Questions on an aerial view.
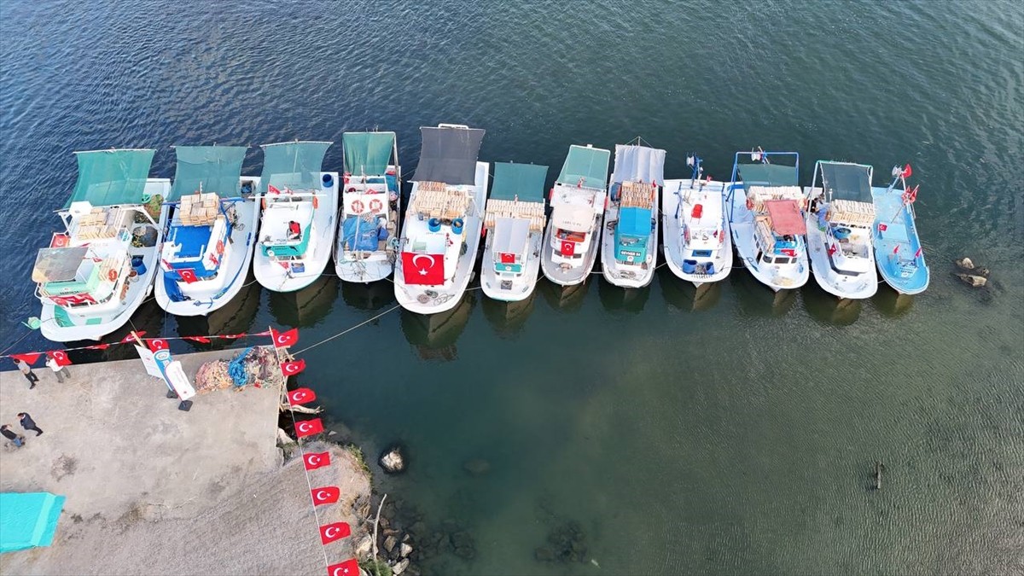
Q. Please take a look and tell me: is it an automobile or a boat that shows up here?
boat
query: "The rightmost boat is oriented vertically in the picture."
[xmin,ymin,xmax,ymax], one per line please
[857,151,925,296]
